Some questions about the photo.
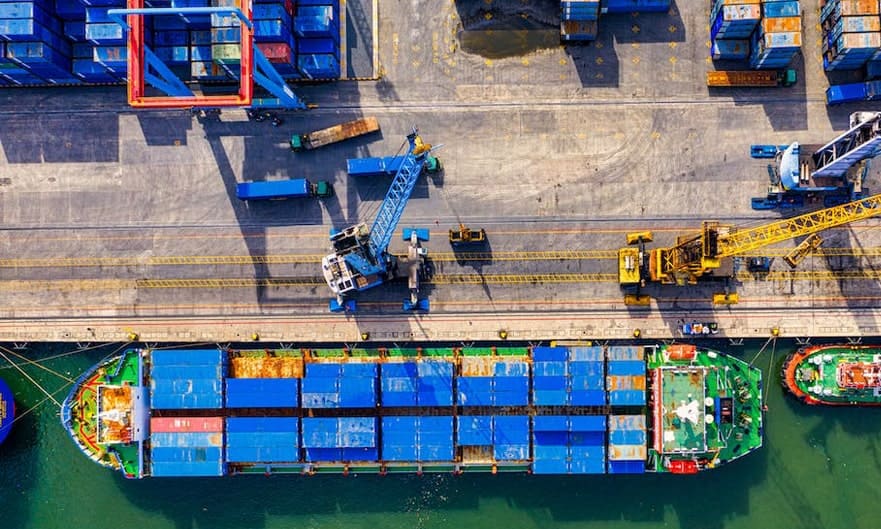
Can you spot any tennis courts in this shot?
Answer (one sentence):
No, no tennis court is visible in the scene.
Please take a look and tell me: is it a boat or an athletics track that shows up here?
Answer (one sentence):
The image shows a boat.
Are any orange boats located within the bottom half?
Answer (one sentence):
Yes, an orange boat appears within the bottom half.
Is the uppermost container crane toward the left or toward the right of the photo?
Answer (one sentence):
The uppermost container crane sits on the left side.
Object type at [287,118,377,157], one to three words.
truck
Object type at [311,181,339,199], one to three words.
vehicle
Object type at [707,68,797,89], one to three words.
vehicle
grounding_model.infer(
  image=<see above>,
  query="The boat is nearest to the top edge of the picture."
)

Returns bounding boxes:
[662,345,698,363]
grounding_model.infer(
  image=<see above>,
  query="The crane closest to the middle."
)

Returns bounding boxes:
[322,133,468,311]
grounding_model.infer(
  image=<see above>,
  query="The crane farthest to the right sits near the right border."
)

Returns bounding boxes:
[751,104,881,210]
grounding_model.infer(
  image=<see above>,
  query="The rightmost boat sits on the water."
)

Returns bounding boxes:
[777,344,881,407]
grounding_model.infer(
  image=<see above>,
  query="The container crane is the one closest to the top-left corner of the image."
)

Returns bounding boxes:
[114,0,317,113]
